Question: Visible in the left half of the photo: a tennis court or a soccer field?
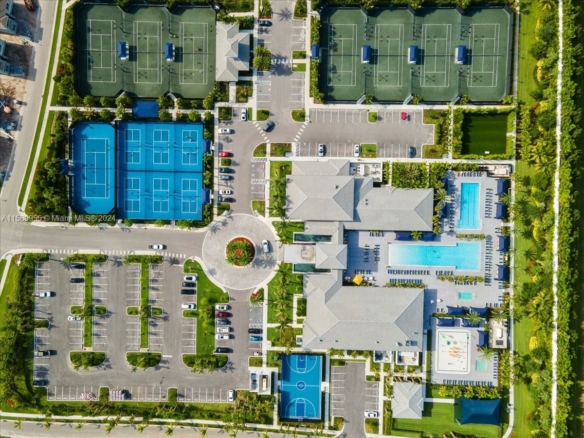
tennis court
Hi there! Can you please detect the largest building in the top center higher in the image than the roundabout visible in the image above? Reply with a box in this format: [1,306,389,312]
[216,22,250,83]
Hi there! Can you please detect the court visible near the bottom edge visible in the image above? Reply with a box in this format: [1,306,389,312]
[282,357,322,419]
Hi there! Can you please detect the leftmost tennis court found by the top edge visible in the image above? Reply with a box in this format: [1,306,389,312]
[77,3,124,94]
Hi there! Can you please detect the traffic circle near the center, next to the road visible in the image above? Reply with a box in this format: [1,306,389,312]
[202,213,278,290]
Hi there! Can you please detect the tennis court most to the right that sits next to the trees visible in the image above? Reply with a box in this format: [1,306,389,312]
[461,8,510,100]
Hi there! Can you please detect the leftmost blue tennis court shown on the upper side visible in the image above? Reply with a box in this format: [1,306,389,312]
[72,121,112,214]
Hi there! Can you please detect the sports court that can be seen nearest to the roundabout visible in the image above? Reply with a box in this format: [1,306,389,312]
[175,171,201,218]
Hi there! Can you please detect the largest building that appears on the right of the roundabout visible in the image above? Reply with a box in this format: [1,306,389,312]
[286,159,434,351]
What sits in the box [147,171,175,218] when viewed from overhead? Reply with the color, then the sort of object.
blue sports court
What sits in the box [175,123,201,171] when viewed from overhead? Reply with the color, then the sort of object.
blue sports court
